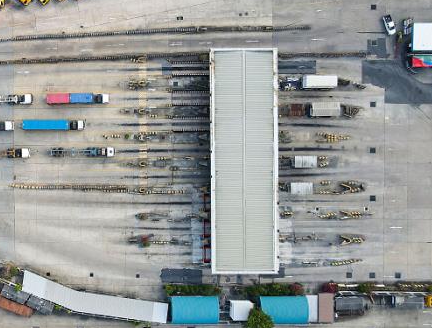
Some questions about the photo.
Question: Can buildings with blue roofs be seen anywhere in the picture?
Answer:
Yes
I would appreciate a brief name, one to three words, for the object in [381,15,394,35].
vehicle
